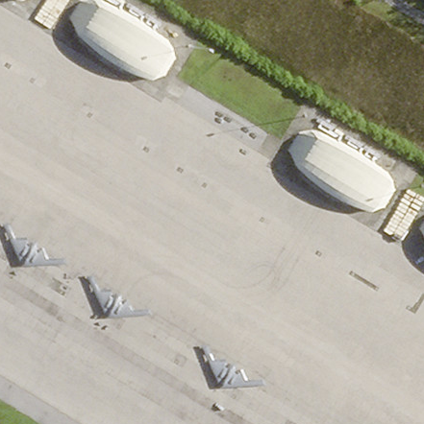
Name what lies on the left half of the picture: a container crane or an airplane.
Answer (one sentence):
The one visible on the left half of the picture is an airplane.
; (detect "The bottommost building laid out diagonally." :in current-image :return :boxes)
[287,129,395,211]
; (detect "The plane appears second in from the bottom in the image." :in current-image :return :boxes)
[88,279,152,318]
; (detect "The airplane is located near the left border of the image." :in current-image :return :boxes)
[3,226,67,266]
